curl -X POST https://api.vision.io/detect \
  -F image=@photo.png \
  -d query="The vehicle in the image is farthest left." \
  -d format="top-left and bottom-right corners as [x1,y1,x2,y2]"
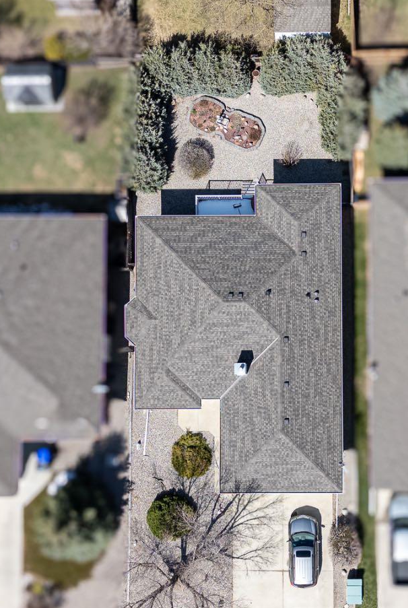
[284,505,324,590]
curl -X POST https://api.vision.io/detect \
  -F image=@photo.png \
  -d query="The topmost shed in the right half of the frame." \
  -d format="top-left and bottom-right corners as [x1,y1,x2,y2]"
[274,0,330,47]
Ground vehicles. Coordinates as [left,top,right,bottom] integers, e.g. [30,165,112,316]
[284,505,324,590]
[384,492,408,589]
